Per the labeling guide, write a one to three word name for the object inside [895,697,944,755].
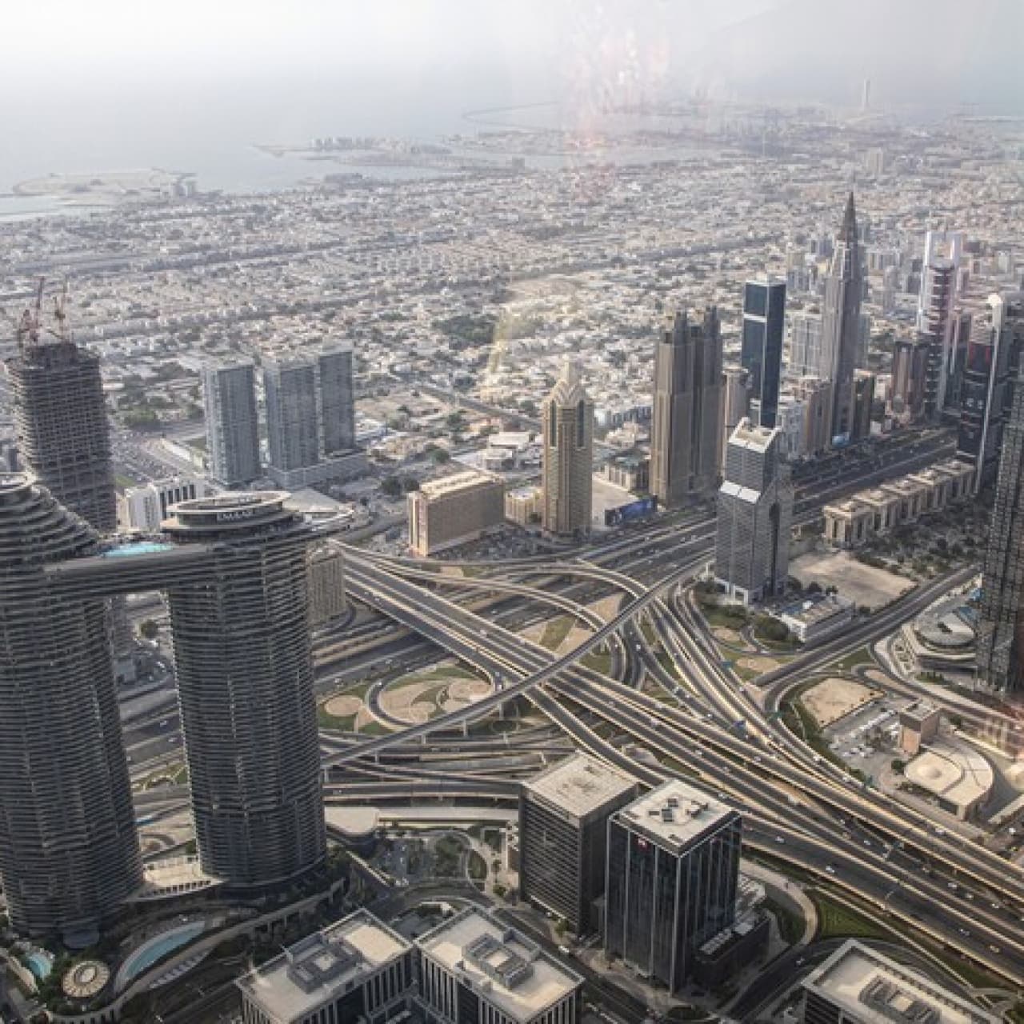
building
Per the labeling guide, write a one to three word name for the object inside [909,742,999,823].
building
